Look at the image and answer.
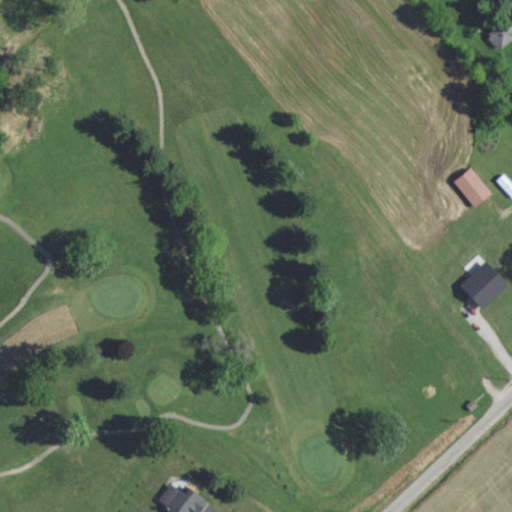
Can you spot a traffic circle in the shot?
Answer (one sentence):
No, there is no traffic circle in the image.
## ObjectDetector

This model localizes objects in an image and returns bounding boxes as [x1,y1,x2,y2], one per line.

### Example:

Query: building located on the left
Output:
[159,474,208,512]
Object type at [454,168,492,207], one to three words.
barn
